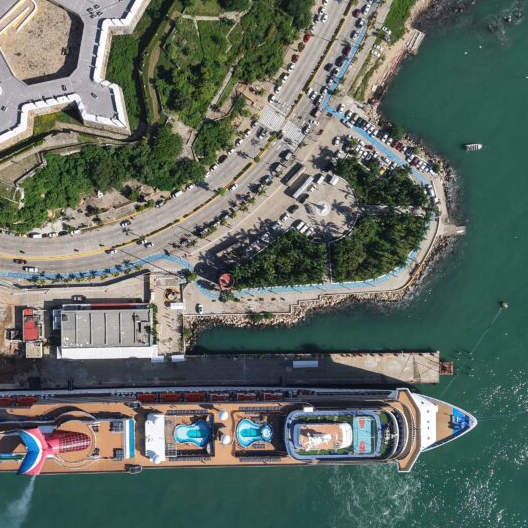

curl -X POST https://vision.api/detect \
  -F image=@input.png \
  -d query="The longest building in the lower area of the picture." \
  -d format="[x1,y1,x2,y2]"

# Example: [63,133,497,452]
[53,303,159,359]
